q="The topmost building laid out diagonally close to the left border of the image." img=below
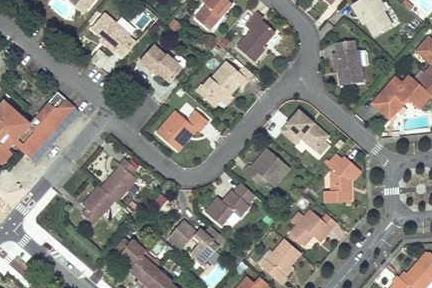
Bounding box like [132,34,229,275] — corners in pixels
[18,100,76,162]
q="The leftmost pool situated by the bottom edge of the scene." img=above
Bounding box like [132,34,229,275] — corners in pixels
[204,264,225,288]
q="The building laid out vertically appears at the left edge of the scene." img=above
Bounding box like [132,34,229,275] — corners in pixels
[0,99,31,166]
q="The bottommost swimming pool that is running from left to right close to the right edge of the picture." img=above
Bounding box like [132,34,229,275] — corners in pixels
[404,116,430,130]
